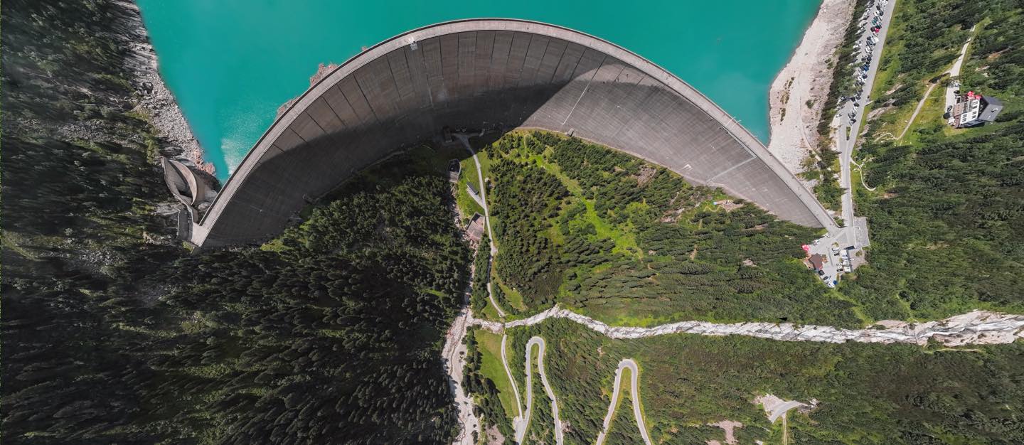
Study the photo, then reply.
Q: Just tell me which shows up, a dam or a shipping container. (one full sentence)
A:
I can see a dam in this picture.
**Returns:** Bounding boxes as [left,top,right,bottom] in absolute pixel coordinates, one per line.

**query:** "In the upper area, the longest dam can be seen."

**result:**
[185,17,832,247]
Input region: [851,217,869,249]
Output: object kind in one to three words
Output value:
building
